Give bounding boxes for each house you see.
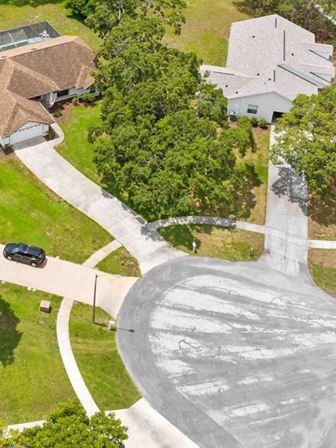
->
[201,14,336,123]
[0,35,107,152]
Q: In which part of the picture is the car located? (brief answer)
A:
left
